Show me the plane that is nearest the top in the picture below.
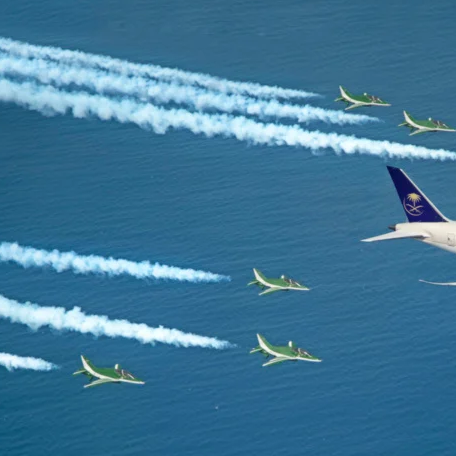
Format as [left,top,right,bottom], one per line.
[334,86,395,110]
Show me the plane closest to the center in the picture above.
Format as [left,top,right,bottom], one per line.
[247,269,311,295]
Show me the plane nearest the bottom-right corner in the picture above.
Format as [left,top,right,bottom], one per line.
[249,334,321,367]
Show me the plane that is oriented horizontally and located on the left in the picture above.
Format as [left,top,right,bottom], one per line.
[72,355,148,388]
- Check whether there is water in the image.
Yes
